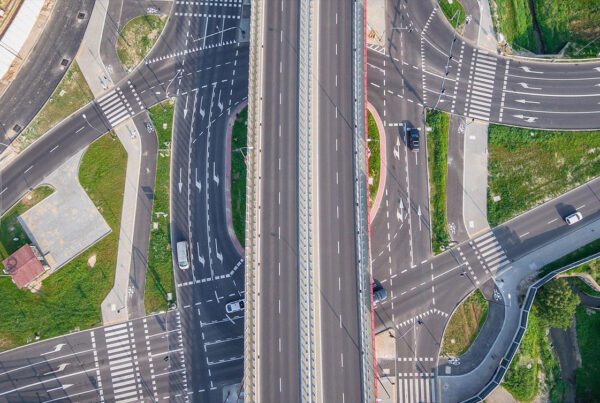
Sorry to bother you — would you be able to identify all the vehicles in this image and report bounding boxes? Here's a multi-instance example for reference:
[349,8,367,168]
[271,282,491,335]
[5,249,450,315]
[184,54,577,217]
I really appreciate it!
[225,300,244,313]
[561,211,582,226]
[178,240,191,270]
[408,129,420,152]
[371,289,389,305]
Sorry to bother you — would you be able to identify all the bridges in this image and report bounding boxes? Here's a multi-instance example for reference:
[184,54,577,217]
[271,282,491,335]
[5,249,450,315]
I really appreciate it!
[243,0,376,403]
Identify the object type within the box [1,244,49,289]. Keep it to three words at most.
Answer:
shed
